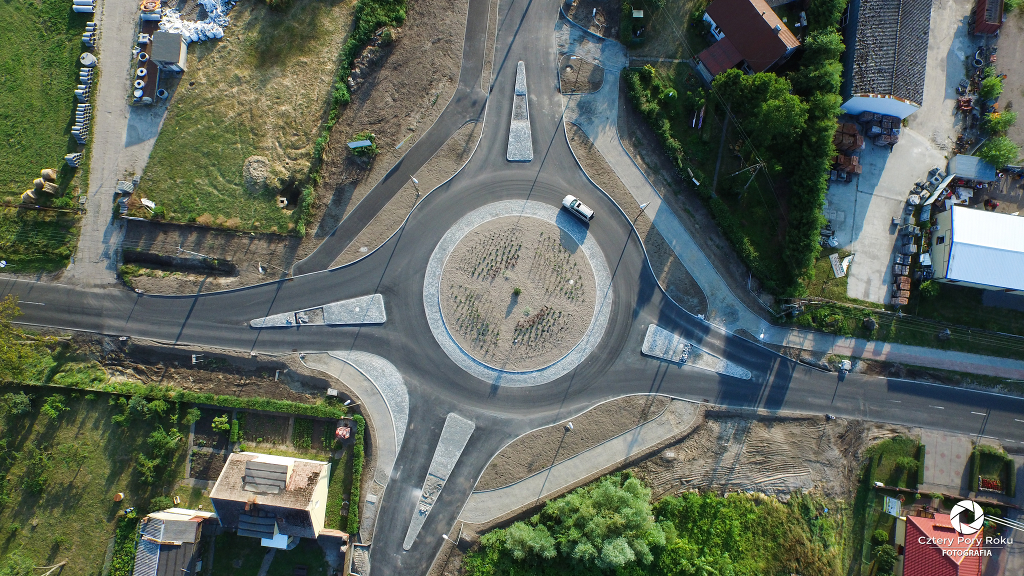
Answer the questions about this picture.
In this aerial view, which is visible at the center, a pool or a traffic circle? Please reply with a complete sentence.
There is a traffic circle at the center.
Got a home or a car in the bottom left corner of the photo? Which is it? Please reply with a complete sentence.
Looking in the bottom left corner of the photo, you will find a home.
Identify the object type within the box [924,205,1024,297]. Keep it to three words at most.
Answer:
building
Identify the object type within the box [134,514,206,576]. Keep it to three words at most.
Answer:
shed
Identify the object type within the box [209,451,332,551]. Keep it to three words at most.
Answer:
house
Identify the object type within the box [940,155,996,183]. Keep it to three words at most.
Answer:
shed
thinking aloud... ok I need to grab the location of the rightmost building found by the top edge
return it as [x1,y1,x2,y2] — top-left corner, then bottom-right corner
[839,0,930,116]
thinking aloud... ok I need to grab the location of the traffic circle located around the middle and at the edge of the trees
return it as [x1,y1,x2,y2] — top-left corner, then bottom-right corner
[388,166,648,425]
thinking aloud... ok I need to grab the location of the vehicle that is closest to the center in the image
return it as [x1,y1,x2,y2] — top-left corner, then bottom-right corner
[560,194,598,224]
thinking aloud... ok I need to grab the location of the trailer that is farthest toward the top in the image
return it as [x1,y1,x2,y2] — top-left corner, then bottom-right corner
[978,0,1014,38]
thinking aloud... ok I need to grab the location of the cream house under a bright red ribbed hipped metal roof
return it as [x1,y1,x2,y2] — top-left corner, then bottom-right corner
[893,509,984,576]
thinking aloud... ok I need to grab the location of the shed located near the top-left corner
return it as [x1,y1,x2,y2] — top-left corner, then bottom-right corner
[150,31,190,70]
